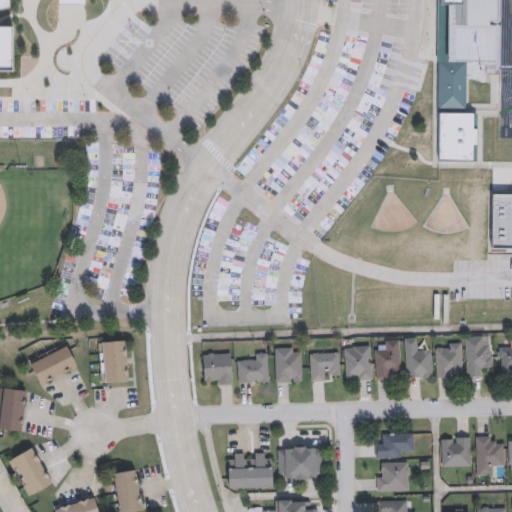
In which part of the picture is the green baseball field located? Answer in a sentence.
The green baseball field appears toward the left of the photo.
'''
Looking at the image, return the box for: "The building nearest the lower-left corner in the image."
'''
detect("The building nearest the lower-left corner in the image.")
[8,450,52,498]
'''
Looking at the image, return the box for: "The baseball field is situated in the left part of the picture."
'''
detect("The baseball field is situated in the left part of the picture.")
[0,156,72,300]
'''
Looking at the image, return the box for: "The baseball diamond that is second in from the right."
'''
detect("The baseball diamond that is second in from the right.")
[372,184,417,232]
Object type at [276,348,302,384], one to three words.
house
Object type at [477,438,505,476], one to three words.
house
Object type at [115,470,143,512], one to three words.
building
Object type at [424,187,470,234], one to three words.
baseball field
